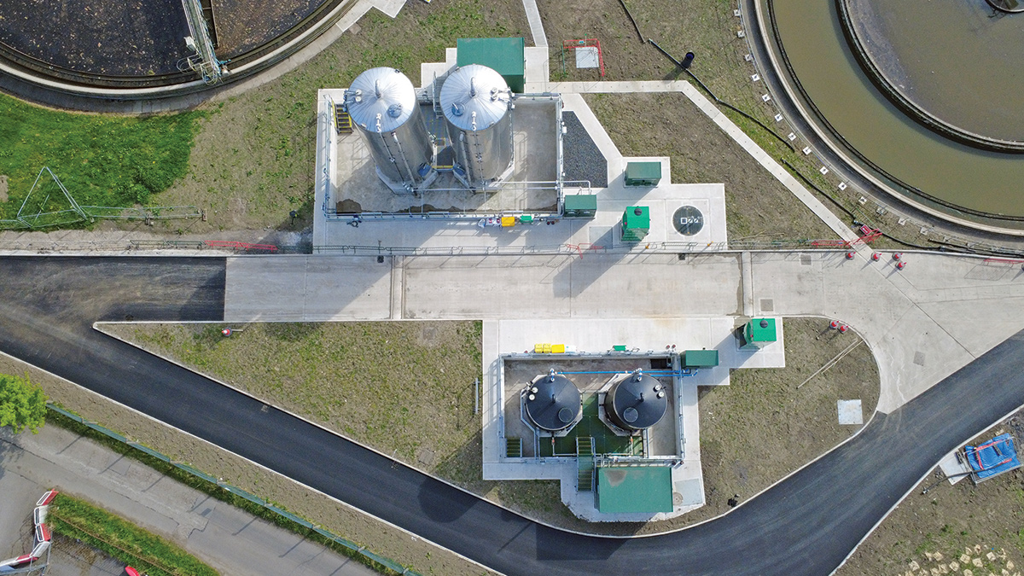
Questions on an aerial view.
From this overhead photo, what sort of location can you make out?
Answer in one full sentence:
This image shows an industrial area.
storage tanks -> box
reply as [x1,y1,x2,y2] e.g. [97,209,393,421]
[739,0,1024,250]
[0,0,374,112]
[523,367,583,446]
[341,68,438,190]
[440,65,517,188]
[605,368,671,444]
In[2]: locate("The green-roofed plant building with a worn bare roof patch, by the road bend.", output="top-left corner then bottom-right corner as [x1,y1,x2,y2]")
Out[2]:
[595,467,673,514]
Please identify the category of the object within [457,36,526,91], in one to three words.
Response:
building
